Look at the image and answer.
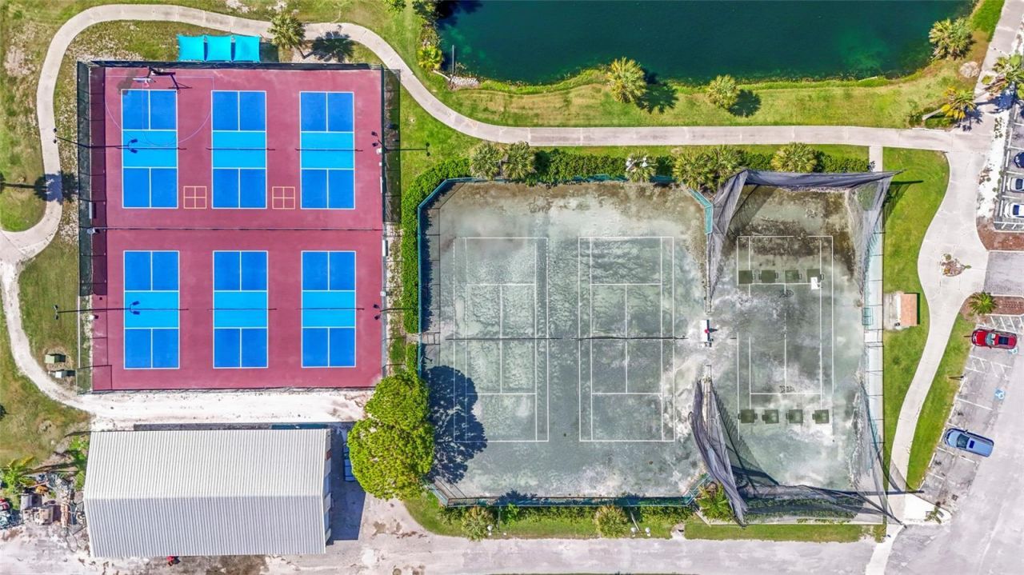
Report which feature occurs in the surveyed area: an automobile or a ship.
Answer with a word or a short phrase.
automobile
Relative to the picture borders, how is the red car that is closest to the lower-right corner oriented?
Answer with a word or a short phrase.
horizontally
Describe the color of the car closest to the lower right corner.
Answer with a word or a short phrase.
blue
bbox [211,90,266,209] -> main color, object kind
blue sports court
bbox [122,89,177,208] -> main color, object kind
blue sports court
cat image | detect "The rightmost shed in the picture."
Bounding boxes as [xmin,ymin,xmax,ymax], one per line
[878,292,914,326]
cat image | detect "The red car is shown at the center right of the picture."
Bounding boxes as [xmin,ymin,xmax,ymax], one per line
[969,328,1019,349]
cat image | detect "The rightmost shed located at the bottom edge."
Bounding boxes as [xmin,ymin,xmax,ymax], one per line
[83,427,333,557]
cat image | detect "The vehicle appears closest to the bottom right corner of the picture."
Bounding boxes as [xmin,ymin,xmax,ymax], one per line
[943,429,996,457]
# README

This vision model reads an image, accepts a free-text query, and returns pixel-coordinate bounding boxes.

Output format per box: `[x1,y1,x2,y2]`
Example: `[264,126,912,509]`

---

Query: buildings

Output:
[878,292,914,326]
[83,427,333,557]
